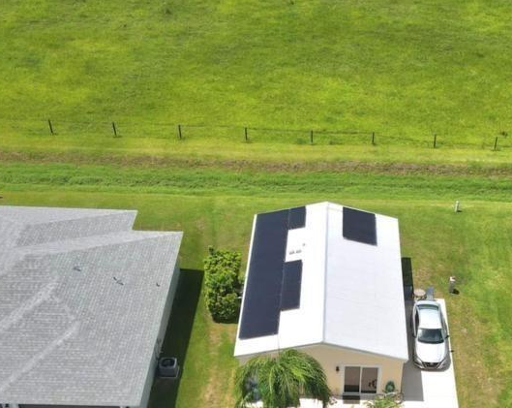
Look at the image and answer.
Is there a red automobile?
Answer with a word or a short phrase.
No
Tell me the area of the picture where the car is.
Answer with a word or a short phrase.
bottom right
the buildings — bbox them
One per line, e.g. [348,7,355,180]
[0,207,184,408]
[232,201,411,400]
